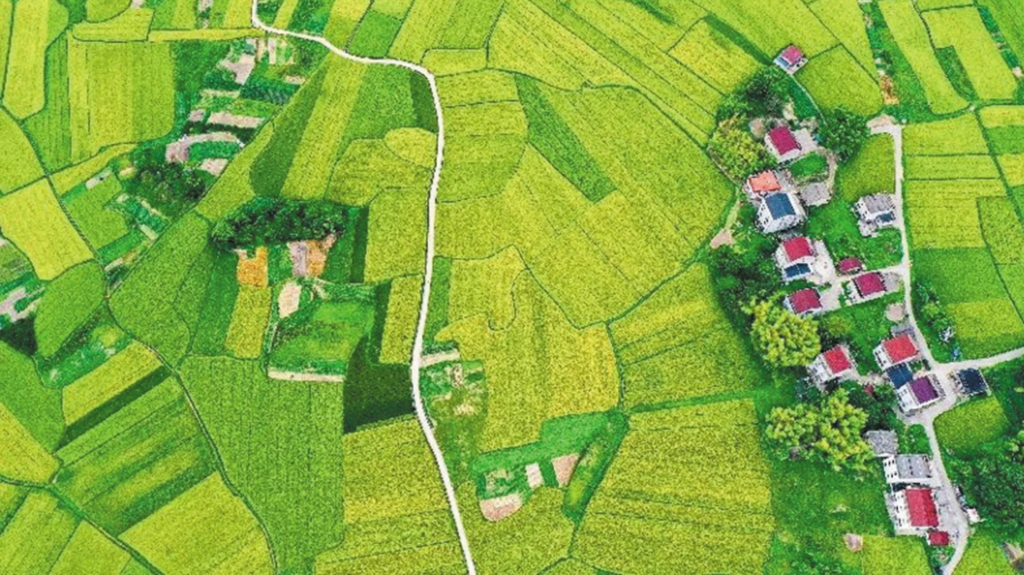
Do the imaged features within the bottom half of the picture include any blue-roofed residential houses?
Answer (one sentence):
Yes, within the bottom half of the picture there is a blue-roofed residential house.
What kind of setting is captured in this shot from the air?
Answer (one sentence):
This looks like farmland.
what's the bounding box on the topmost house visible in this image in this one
[774,46,810,75]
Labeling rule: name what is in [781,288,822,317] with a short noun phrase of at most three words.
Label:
house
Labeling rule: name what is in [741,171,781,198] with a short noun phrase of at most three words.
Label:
house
